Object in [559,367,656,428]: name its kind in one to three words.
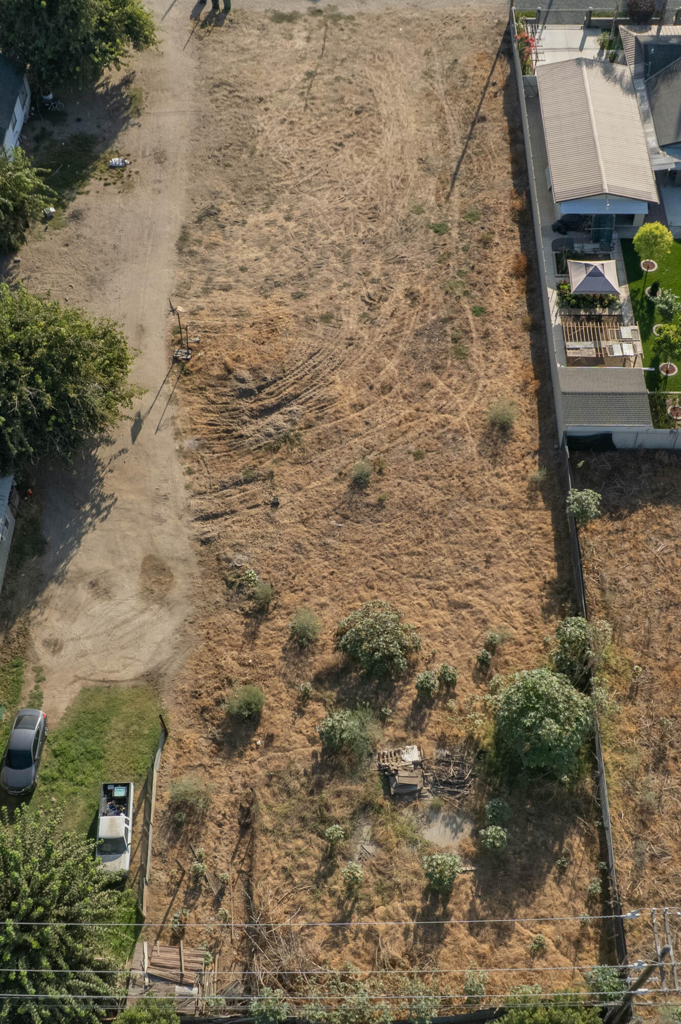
shed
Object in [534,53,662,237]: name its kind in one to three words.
building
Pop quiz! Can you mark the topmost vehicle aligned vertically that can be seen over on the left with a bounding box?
[0,710,50,799]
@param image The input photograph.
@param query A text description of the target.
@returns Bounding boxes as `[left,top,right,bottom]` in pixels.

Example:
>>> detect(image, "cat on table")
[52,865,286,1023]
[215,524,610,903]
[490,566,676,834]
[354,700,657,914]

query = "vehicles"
[91,783,137,886]
[0,710,50,799]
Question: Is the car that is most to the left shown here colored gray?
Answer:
Yes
